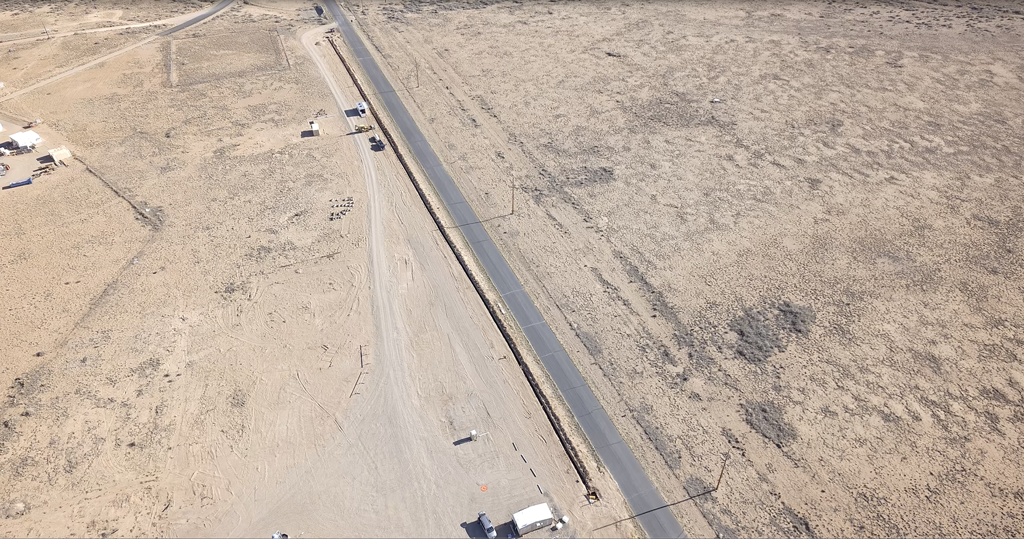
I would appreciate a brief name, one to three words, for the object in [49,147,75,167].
shed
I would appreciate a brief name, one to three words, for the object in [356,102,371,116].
camper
